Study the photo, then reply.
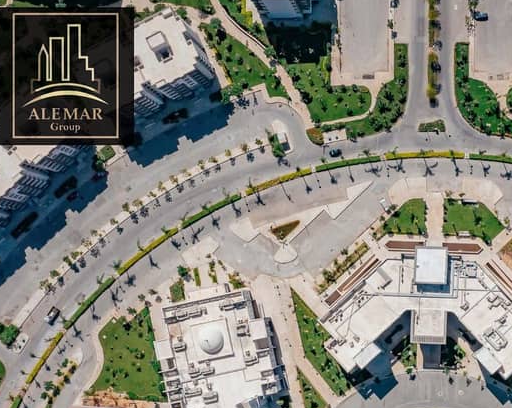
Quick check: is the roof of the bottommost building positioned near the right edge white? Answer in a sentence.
Yes, white is the color of the roof of the bottommost building positioned near the right edge.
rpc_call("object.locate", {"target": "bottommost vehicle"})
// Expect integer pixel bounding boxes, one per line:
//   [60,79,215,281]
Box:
[47,307,61,322]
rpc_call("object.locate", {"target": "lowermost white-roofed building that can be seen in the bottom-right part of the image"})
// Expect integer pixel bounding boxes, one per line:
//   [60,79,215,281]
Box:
[321,247,512,379]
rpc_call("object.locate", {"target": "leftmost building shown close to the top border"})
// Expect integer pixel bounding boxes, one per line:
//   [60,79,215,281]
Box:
[70,16,212,135]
